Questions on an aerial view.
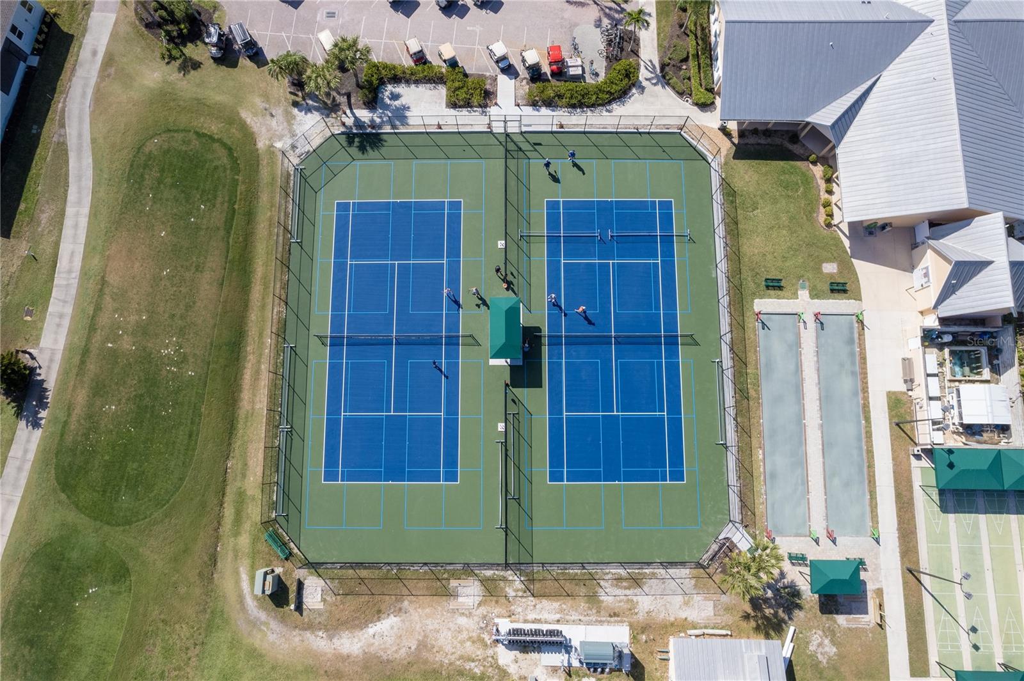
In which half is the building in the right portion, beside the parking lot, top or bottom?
top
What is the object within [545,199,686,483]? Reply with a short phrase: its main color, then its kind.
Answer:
blue tennis court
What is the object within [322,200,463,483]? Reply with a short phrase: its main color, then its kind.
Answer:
blue tennis court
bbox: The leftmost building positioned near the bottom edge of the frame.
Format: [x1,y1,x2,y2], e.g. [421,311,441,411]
[571,641,617,676]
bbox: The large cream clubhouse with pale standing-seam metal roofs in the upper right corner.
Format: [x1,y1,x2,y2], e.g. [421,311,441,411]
[709,0,1024,231]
